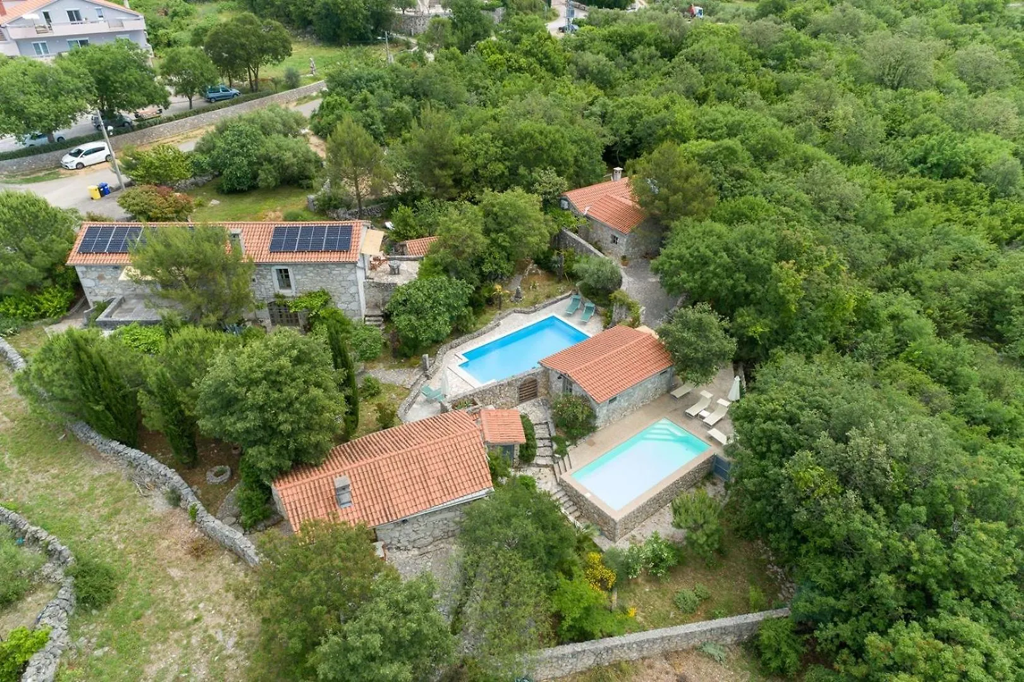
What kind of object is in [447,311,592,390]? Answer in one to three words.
swimming pool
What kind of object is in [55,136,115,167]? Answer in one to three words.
car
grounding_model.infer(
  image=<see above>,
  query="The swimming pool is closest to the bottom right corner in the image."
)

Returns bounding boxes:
[558,410,718,547]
